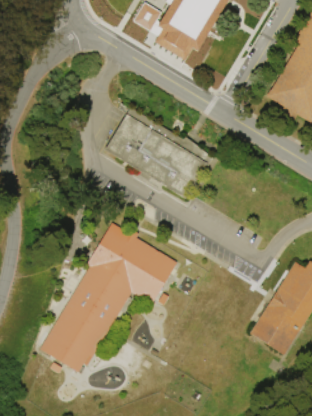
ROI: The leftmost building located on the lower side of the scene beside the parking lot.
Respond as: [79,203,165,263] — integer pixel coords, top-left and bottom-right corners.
[39,222,176,372]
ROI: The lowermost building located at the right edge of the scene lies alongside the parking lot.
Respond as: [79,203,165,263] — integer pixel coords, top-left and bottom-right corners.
[250,262,312,355]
